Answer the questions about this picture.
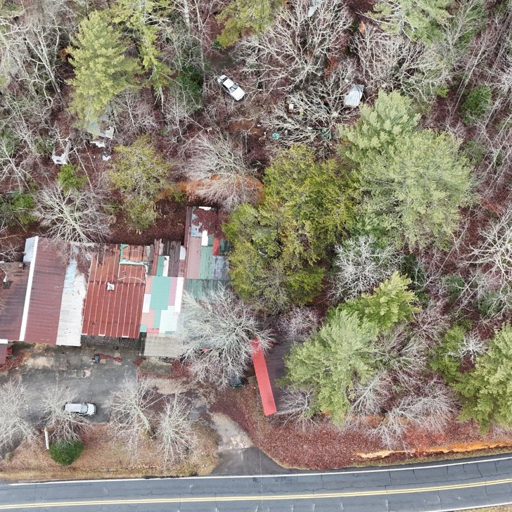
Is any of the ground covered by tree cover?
Yes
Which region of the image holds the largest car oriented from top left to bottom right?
top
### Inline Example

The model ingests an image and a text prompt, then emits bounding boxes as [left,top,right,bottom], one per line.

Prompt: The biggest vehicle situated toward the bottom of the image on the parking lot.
[64,402,97,418]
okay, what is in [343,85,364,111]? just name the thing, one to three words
shed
